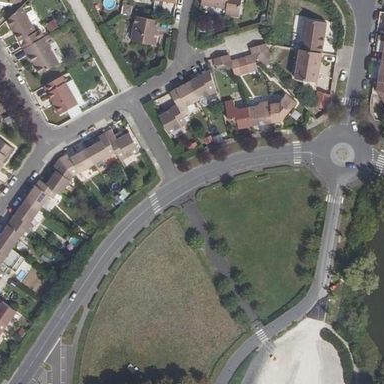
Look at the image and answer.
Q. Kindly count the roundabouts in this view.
1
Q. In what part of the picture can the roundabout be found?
right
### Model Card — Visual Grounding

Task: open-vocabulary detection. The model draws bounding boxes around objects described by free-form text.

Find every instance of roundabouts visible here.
[316,127,370,181]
